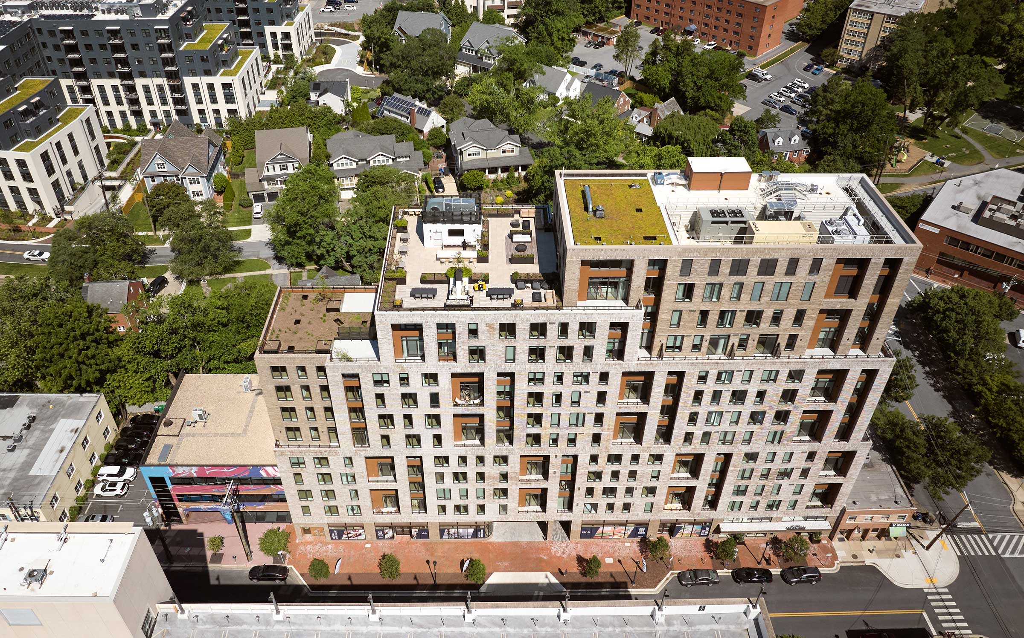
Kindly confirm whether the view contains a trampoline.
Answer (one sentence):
No, the photo shows no trampoline.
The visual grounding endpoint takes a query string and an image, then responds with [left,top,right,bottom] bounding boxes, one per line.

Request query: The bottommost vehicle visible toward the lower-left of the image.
[246,564,287,583]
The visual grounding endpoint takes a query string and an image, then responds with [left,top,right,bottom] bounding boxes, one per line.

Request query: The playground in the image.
[879,138,928,173]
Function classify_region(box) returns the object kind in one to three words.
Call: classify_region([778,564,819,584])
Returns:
car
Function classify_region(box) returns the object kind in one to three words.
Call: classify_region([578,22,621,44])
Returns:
house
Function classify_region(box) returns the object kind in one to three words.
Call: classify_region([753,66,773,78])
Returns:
vehicle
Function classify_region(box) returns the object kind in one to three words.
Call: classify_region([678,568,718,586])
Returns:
car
